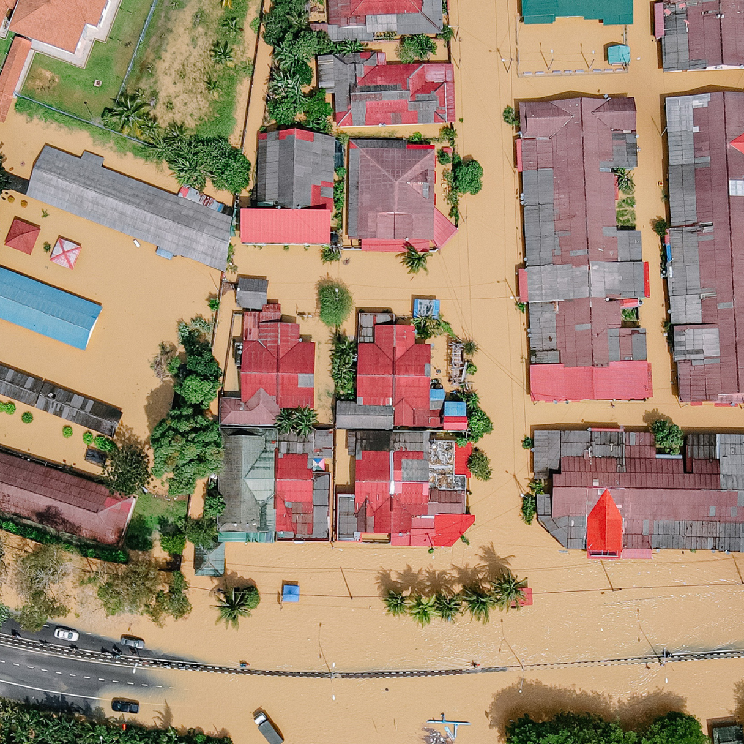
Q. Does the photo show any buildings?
Yes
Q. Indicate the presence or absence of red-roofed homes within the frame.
Yes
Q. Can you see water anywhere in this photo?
Yes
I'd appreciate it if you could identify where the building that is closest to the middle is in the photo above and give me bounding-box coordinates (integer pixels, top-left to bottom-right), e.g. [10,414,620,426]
[337,312,445,429]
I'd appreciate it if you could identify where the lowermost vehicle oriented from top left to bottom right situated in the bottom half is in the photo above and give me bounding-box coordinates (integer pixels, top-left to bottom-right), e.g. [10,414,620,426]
[255,710,284,744]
